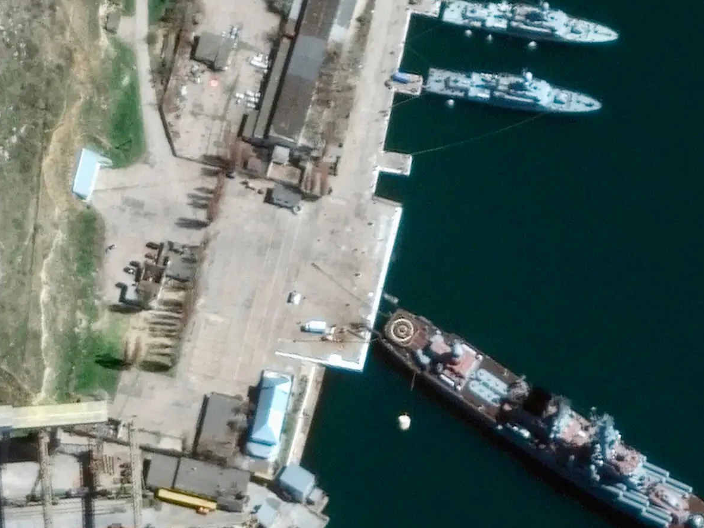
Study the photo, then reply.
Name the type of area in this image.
port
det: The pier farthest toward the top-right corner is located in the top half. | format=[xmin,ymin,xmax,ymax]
[411,0,441,19]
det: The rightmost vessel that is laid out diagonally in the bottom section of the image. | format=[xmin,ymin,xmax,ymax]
[382,312,704,528]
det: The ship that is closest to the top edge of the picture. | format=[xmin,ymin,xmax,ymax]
[442,0,619,43]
